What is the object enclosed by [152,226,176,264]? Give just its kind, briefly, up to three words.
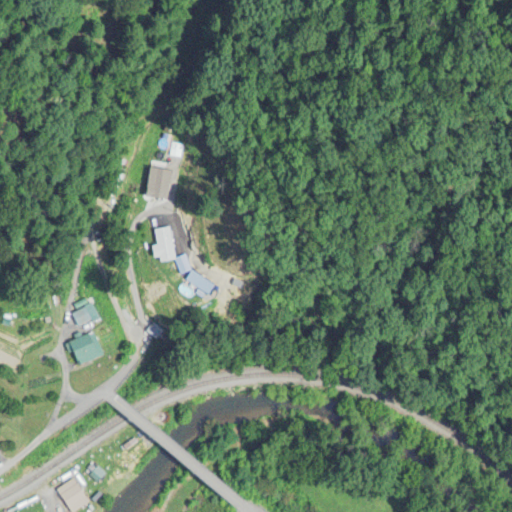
house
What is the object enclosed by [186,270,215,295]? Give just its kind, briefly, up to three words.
house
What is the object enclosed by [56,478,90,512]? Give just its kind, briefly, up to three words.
building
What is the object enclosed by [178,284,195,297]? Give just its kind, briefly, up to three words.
swimming pool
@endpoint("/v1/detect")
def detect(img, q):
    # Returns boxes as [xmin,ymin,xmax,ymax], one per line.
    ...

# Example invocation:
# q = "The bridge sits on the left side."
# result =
[102,390,249,512]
